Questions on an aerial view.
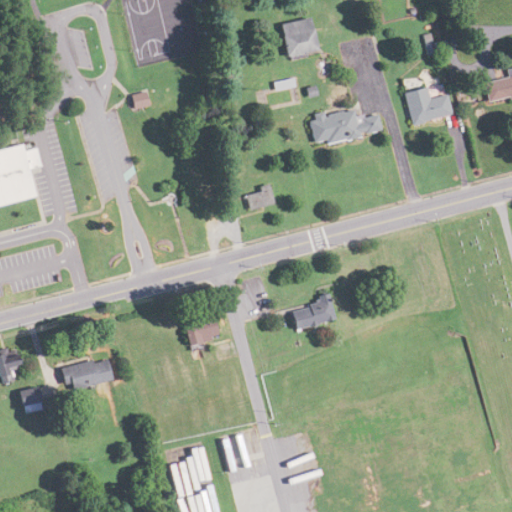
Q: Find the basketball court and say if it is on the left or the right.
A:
left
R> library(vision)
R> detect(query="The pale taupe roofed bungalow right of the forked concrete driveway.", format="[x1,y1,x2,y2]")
[248,184,275,210]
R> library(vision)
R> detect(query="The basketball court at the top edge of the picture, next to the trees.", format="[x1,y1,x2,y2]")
[125,0,194,66]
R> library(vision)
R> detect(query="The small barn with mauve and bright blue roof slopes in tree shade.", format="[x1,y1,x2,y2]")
[20,388,43,414]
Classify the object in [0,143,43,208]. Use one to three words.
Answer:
building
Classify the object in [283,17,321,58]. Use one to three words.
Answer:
house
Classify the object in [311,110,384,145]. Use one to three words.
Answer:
house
